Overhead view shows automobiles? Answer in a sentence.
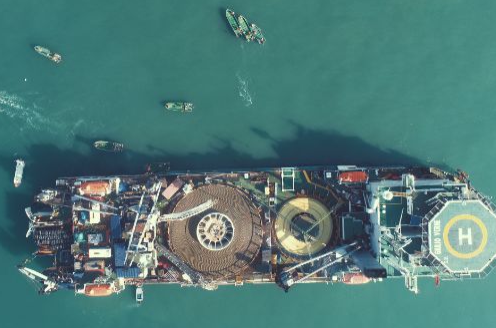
No, no automobile is visible in the view.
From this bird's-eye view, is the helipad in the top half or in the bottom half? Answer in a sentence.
It is in the bottom half that the helipad appears.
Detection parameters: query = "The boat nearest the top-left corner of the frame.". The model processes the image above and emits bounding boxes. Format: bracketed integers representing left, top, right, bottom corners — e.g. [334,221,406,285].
[32,45,62,64]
